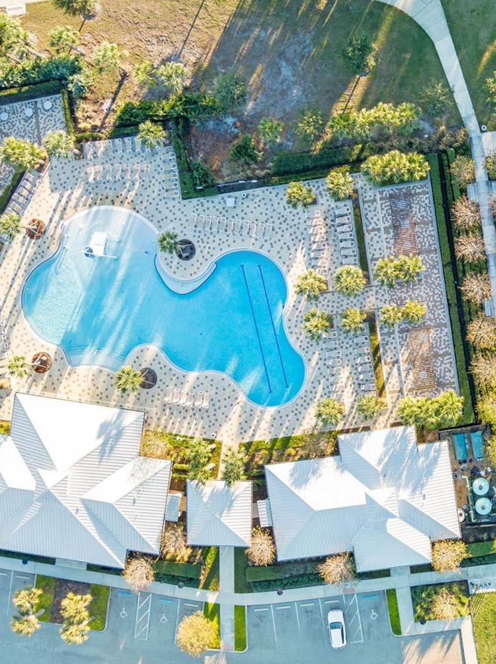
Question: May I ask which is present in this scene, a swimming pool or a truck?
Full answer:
Looking from above, you can make out a swimming pool.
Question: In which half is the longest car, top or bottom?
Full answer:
The longest car is in the bottom half of the image.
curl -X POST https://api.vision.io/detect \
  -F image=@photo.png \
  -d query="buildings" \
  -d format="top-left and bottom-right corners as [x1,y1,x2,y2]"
[186,477,258,548]
[264,425,461,573]
[0,392,175,569]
